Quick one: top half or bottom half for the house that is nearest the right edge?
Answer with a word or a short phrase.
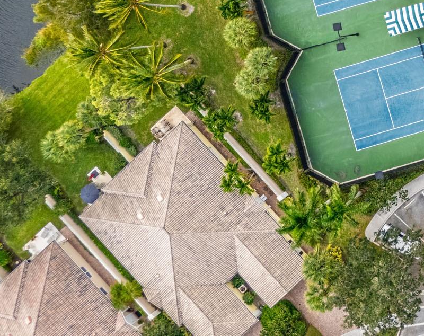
bottom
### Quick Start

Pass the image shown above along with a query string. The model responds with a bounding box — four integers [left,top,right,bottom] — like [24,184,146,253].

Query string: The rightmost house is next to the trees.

[78,121,308,336]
